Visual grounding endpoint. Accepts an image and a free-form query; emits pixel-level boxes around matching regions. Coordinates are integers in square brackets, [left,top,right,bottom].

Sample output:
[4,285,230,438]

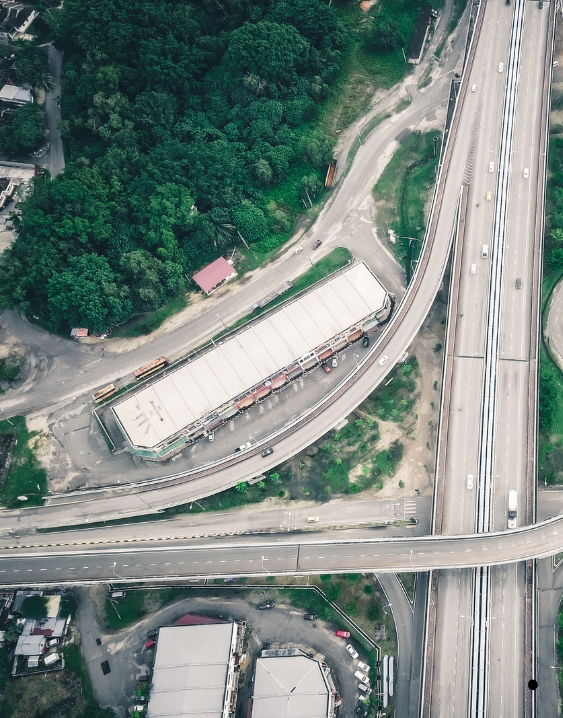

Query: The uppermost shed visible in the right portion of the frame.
[407,5,433,68]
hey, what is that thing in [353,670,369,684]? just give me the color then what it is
white car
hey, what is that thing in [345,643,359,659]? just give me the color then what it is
white car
